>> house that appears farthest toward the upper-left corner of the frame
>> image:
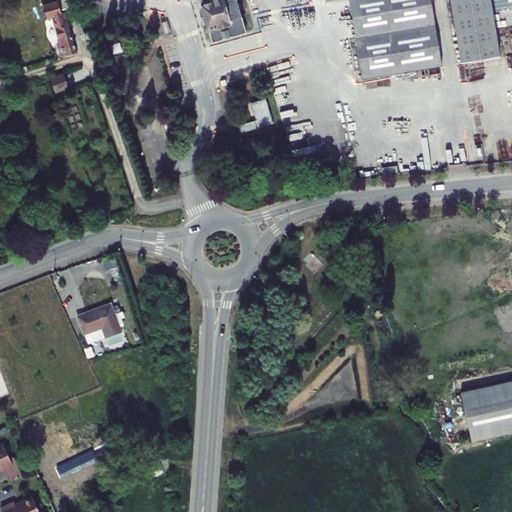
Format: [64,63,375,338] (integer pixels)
[41,0,76,58]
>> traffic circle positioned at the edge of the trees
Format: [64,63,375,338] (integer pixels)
[152,201,288,325]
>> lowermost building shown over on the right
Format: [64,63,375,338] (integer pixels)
[462,380,512,444]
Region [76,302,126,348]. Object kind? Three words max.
house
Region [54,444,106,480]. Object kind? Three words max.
shed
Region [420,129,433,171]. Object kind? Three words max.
vehicle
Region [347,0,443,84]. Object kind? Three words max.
building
